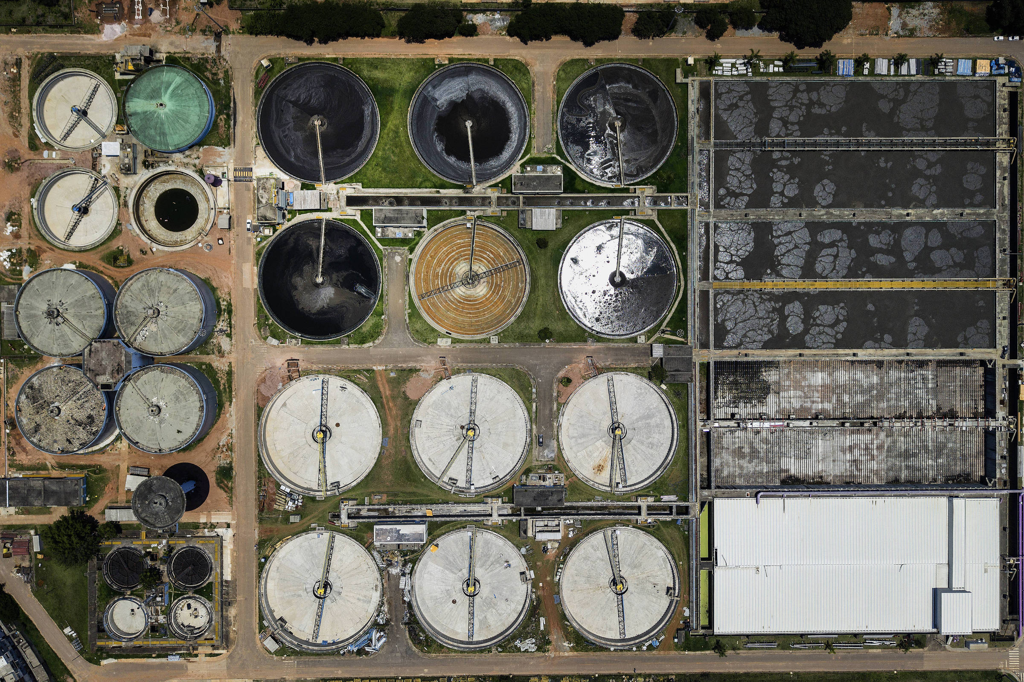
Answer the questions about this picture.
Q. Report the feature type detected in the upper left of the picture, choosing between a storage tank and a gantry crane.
storage tank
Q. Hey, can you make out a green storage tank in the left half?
Yes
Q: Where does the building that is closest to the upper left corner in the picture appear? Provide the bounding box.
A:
[114,45,166,79]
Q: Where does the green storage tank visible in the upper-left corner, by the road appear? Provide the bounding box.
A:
[124,65,215,154]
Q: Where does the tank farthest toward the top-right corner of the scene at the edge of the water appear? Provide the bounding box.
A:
[558,62,679,187]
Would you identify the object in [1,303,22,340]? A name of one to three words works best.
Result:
shed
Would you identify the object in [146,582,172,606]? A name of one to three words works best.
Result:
building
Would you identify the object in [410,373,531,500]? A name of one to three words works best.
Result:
storage tank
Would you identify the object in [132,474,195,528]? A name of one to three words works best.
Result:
water tower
